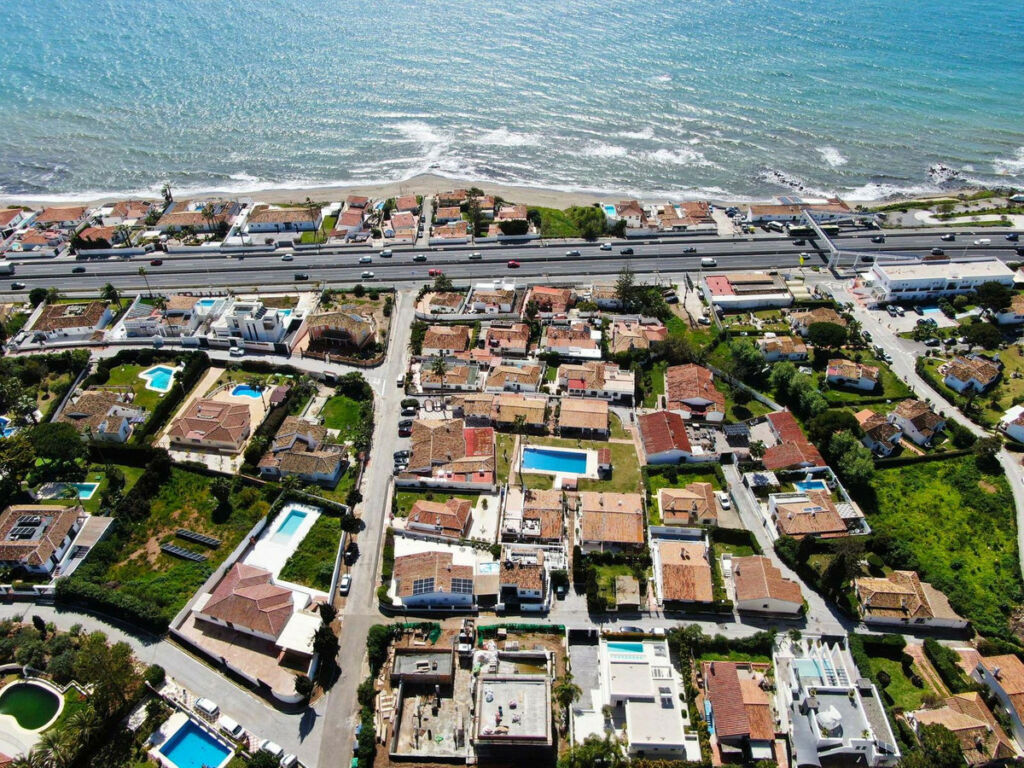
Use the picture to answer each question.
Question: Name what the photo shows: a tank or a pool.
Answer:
pool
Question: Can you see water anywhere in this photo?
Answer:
Yes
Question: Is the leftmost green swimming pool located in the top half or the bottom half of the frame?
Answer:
bottom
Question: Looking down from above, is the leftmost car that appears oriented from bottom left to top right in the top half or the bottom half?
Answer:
bottom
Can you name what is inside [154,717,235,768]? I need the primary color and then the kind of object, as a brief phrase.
blue swimming pool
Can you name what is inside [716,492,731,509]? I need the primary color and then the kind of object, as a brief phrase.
white car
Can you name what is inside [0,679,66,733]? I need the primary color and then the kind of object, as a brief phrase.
green swimming pool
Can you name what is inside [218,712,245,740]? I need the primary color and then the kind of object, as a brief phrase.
white vehicle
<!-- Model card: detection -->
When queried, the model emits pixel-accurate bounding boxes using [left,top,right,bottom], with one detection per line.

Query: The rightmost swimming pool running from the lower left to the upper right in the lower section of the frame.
[270,509,309,546]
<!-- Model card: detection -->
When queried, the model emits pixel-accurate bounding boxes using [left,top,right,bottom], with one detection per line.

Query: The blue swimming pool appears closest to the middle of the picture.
[519,446,590,477]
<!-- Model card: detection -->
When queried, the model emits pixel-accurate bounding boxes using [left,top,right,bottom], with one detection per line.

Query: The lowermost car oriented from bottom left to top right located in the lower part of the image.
[276,747,300,768]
